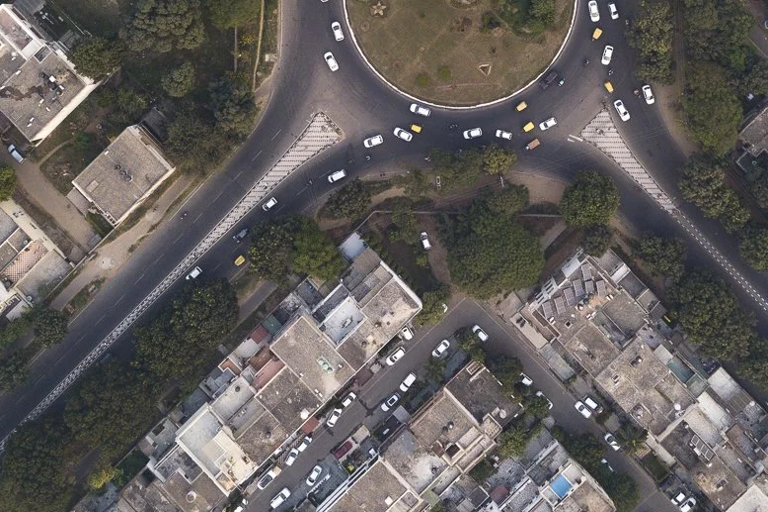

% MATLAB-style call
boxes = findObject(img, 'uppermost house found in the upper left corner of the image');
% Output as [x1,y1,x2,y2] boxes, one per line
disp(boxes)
[0,0,97,143]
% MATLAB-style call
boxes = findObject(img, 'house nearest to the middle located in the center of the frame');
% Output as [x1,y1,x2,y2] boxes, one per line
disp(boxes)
[313,231,423,370]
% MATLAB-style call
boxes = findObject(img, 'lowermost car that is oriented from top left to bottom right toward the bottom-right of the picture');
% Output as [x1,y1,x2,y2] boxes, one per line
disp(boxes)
[603,430,621,452]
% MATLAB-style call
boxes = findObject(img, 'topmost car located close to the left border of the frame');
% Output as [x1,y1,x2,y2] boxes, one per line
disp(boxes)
[7,144,24,163]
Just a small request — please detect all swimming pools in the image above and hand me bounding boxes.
[549,473,573,497]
